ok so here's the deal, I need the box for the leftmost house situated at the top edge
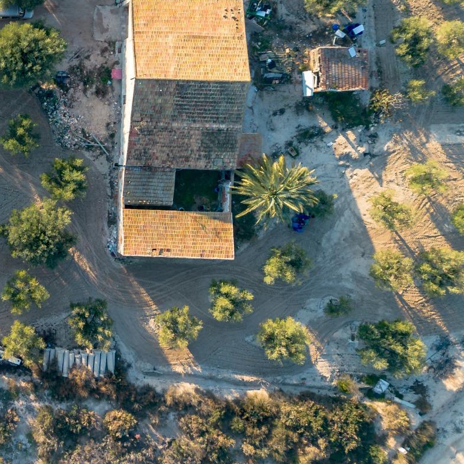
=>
[109,0,251,171]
